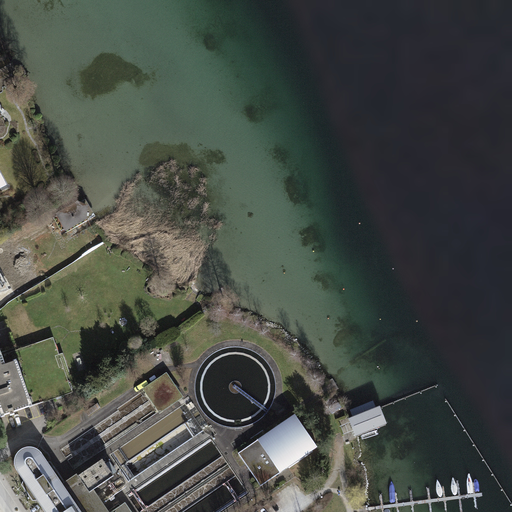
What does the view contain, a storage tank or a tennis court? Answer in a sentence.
There is a storage tank in the scene.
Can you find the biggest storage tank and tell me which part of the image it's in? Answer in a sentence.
You can find the biggest storage tank in the bottom area of the picture.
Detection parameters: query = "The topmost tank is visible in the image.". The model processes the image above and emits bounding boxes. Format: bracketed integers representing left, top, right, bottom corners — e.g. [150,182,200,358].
[195,347,276,428]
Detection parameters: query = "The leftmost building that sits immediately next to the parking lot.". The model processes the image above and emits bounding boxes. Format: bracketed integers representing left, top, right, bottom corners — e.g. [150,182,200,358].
[0,358,30,414]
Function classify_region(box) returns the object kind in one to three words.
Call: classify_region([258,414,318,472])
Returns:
building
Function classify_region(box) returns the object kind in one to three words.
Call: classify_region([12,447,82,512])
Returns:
building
